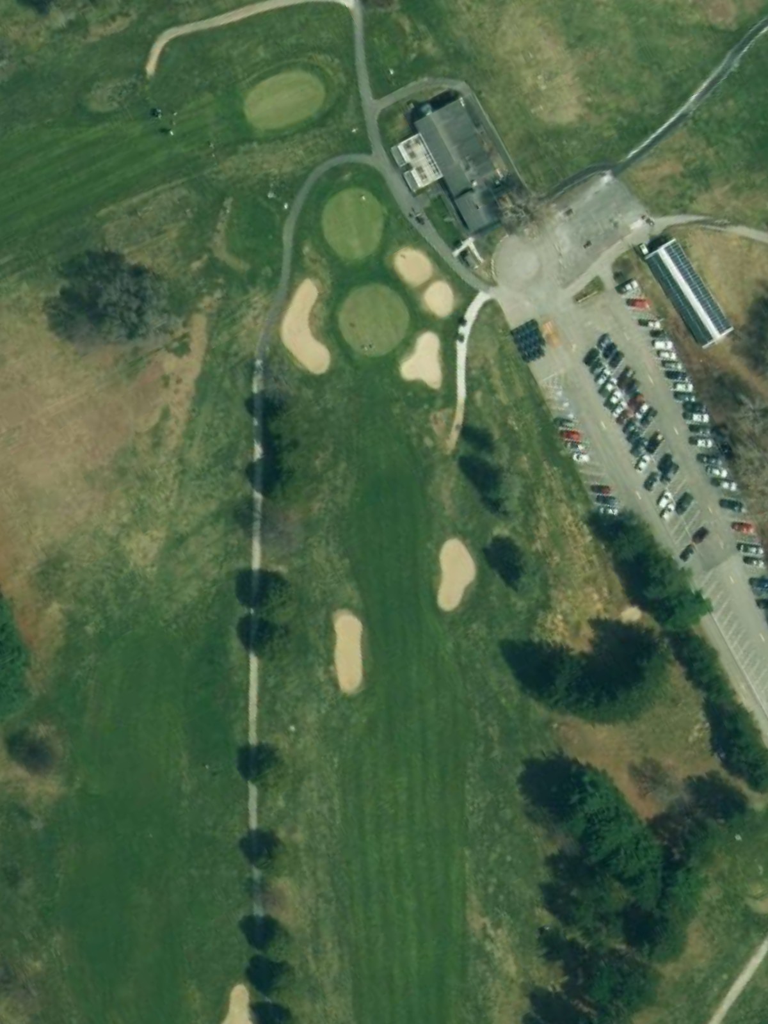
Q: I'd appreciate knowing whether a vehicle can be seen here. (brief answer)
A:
Yes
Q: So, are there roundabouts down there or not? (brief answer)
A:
Yes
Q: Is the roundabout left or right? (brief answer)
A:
right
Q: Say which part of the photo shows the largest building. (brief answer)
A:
top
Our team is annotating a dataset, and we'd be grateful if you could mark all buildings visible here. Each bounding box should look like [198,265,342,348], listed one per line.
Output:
[415,97,505,232]
[646,238,735,348]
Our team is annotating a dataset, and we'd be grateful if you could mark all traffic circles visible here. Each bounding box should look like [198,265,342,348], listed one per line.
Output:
[494,234,542,282]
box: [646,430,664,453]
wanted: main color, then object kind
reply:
black vehicle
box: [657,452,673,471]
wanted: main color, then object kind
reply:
black car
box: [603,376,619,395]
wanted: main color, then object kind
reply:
white car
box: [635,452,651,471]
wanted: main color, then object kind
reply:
white car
